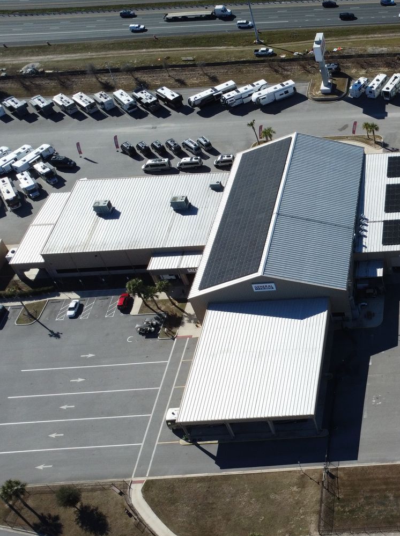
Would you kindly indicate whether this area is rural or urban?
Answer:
urban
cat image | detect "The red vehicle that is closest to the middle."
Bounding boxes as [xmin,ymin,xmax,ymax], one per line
[117,293,131,310]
